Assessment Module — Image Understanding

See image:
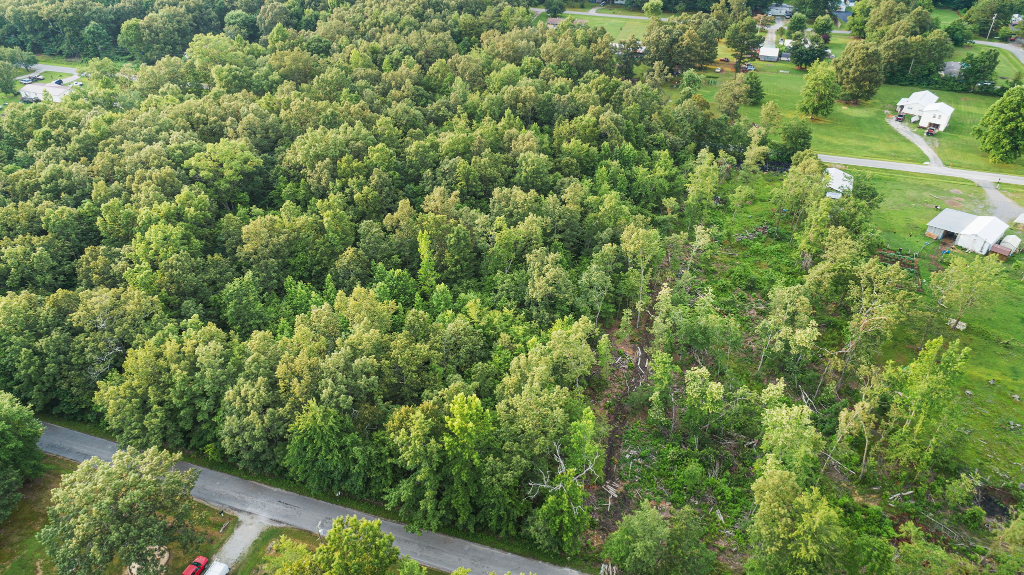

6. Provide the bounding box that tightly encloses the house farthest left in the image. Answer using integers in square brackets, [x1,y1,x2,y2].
[12,83,76,104]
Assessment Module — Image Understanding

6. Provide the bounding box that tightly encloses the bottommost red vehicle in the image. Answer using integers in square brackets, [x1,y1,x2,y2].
[176,555,211,575]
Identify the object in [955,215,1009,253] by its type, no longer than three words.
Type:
barn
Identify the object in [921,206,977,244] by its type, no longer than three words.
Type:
shed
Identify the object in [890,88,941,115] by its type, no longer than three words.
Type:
house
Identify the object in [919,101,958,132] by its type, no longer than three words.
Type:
building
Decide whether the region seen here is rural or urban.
rural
